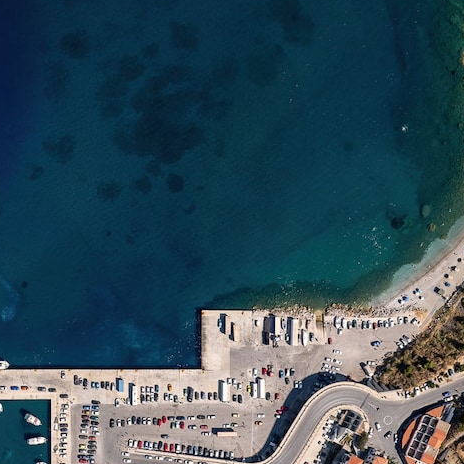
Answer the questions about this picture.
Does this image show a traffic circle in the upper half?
No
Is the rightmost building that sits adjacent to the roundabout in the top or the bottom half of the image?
bottom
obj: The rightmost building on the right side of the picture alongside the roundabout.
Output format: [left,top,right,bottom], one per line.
[399,405,450,464]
